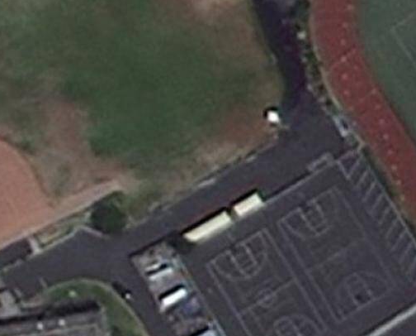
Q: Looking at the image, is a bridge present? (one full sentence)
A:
No, there isn't any bridge down there.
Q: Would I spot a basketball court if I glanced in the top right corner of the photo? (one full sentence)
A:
No, in the top right corner of the photo there is no basketball court.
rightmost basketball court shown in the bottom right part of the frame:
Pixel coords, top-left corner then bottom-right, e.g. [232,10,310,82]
[277,186,393,320]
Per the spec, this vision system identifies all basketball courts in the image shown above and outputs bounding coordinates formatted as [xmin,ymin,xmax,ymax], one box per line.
[209,231,325,336]
[277,186,393,320]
